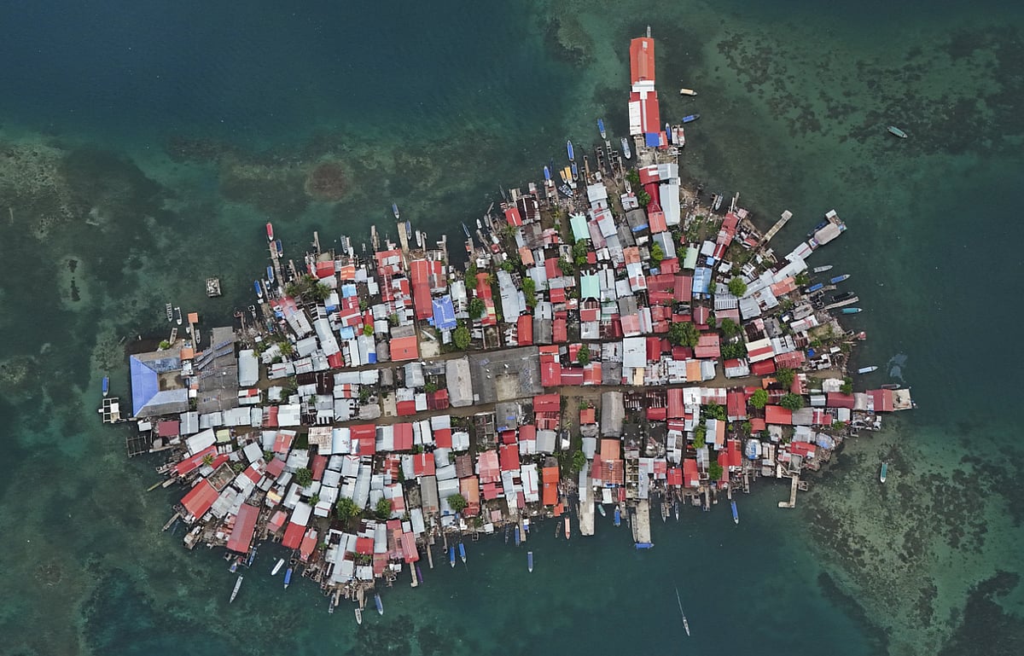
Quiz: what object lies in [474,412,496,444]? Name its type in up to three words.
building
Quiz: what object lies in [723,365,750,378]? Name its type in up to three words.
house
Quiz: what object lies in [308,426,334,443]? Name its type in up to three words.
house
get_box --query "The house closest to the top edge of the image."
[628,35,655,84]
